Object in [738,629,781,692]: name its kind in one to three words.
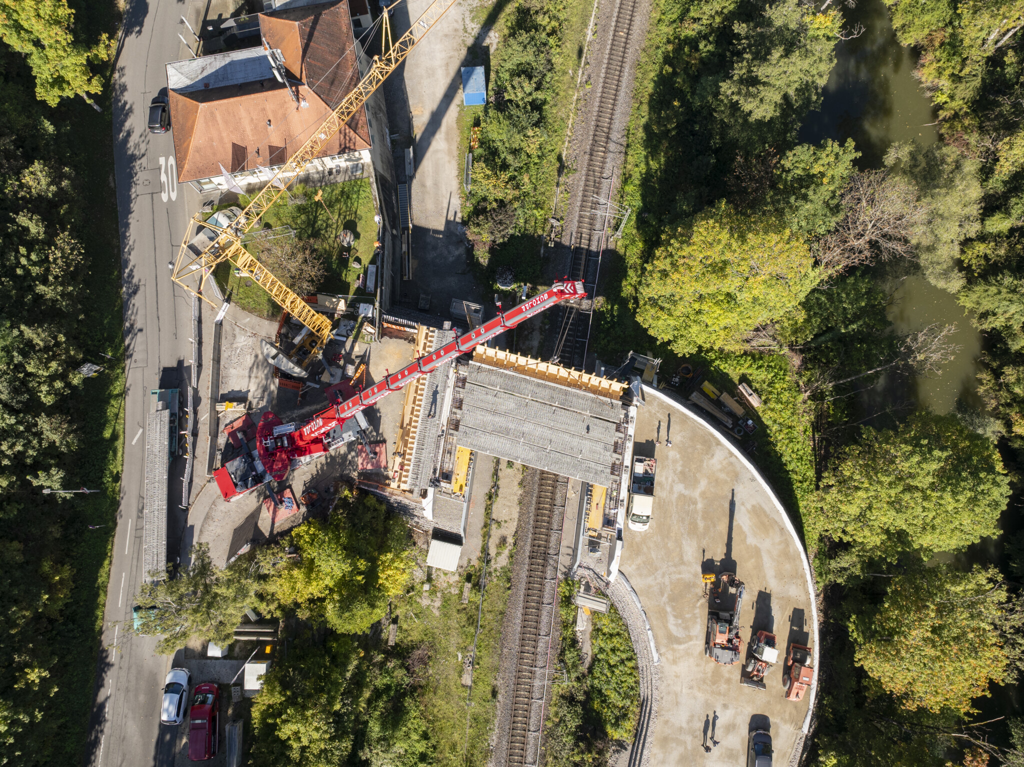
work vehicle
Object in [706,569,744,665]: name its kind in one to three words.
work vehicle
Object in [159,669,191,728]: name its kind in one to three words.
car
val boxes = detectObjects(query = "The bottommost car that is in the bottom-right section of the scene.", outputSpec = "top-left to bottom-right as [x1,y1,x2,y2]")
[749,730,778,767]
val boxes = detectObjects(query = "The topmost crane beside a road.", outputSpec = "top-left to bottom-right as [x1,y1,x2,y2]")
[165,0,469,388]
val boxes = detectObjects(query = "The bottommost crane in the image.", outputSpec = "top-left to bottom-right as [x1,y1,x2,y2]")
[212,275,612,509]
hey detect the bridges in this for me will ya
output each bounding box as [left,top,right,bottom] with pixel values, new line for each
[389,322,641,585]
